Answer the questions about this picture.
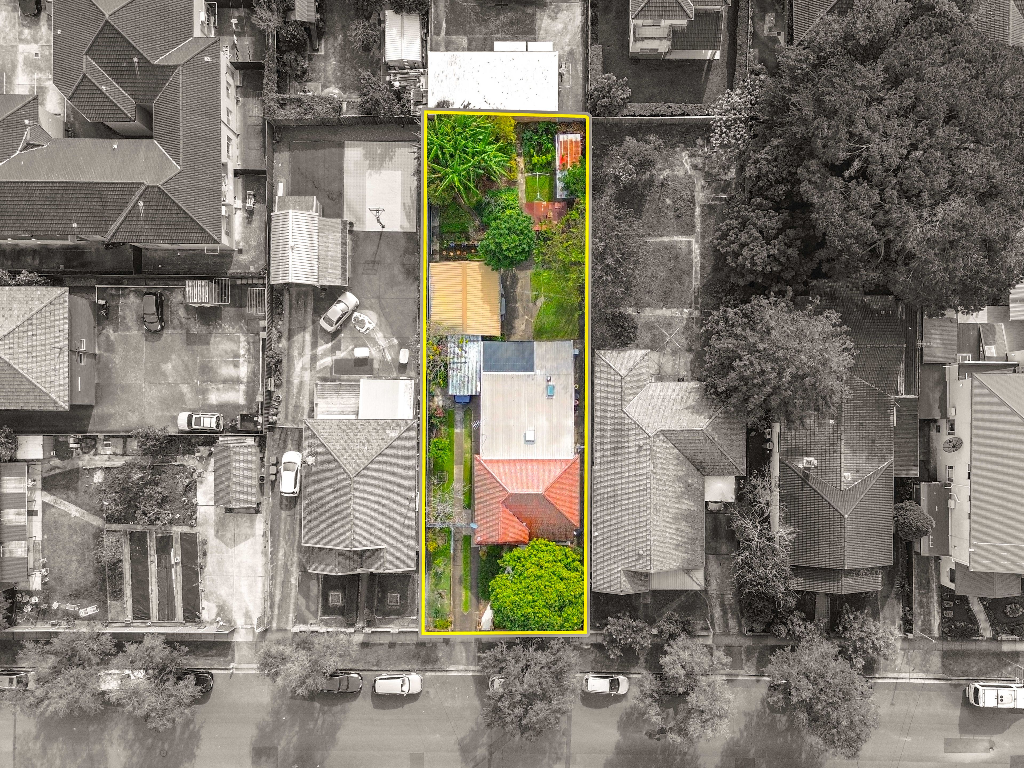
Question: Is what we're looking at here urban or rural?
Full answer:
The area is urban.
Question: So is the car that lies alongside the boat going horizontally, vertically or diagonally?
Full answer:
What the image shows is the car that lies alongside the boat lying diagonally.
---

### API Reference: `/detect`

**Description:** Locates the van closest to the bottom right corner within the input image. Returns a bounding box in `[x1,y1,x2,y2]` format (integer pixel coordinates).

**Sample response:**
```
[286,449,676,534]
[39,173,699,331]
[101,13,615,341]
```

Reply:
[969,681,1024,711]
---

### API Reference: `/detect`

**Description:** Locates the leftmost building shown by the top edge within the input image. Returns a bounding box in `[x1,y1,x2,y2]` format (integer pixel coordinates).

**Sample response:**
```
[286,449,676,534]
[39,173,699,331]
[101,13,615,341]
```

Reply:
[0,0,242,250]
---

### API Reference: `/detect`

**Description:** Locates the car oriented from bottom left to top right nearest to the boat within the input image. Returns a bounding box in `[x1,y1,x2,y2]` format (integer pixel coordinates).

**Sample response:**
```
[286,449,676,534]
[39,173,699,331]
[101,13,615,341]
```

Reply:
[316,288,361,338]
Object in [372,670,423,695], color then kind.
white car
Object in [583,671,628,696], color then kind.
white car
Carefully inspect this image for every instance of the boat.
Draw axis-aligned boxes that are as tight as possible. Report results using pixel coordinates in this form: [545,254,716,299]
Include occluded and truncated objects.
[352,313,374,334]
